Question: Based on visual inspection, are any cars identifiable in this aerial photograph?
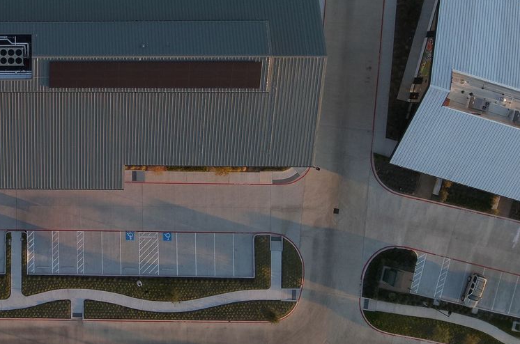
Yes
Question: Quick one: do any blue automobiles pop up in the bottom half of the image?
No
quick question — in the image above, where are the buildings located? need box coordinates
[387,0,520,201]
[0,0,329,191]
